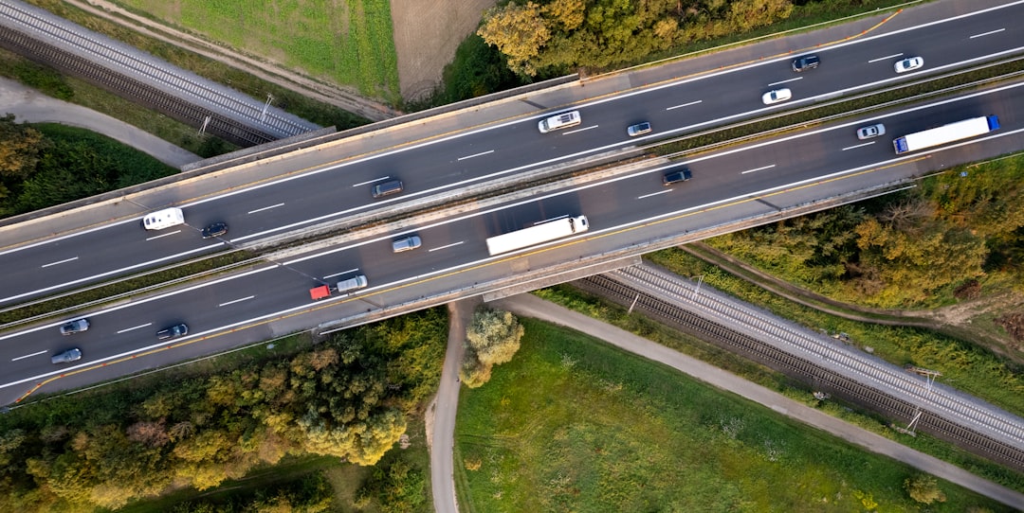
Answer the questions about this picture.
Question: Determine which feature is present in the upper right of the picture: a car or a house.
car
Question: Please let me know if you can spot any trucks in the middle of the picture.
Yes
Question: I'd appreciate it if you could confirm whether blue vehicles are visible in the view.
Yes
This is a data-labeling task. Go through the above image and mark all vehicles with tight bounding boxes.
[373,180,404,197]
[51,347,83,364]
[662,167,691,184]
[60,318,91,335]
[337,275,368,292]
[761,88,792,105]
[895,114,1002,154]
[790,54,819,71]
[487,216,587,256]
[539,110,582,132]
[854,123,884,139]
[144,208,186,230]
[393,235,422,252]
[892,57,923,73]
[201,221,229,237]
[626,121,652,136]
[157,324,189,341]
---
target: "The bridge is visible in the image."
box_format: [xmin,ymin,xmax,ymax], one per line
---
[0,69,917,337]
